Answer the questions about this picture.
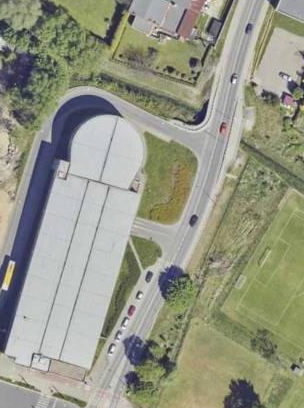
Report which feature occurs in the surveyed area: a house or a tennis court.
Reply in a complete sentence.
The image shows a house.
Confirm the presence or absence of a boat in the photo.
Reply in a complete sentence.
No, the picture doesn't show any boat.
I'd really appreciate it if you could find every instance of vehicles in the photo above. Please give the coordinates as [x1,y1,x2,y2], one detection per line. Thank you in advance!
[145,271,153,282]
[114,330,122,341]
[120,317,128,328]
[2,261,16,290]
[135,290,143,301]
[189,214,197,226]
[245,22,252,33]
[221,122,228,133]
[127,306,136,316]
[107,343,116,354]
